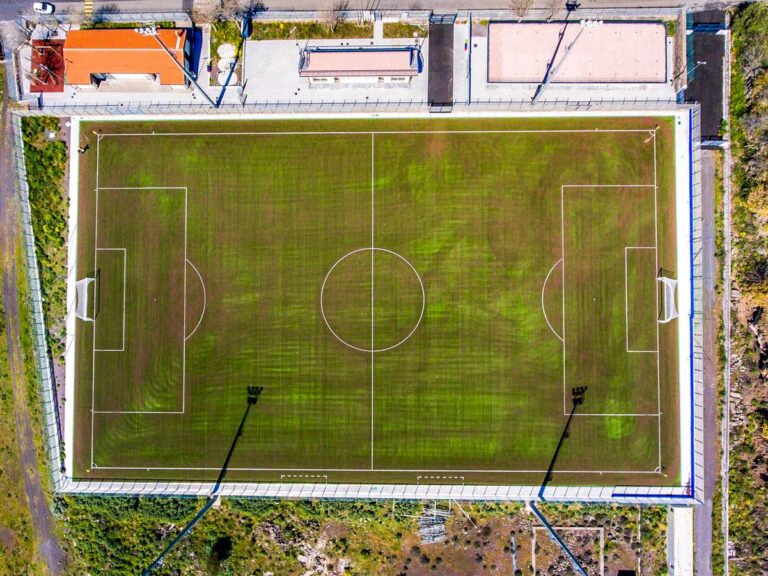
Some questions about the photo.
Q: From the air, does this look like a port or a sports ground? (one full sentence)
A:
This looks like a sports ground.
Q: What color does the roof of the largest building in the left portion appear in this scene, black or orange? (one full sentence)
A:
The roof of the largest building in the left portion is orange.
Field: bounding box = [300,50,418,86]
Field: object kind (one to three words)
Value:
building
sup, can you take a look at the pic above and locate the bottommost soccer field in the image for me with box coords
[72,116,681,487]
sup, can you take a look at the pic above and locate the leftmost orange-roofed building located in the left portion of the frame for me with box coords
[62,28,194,100]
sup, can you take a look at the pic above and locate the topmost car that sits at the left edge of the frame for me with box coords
[32,2,56,15]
